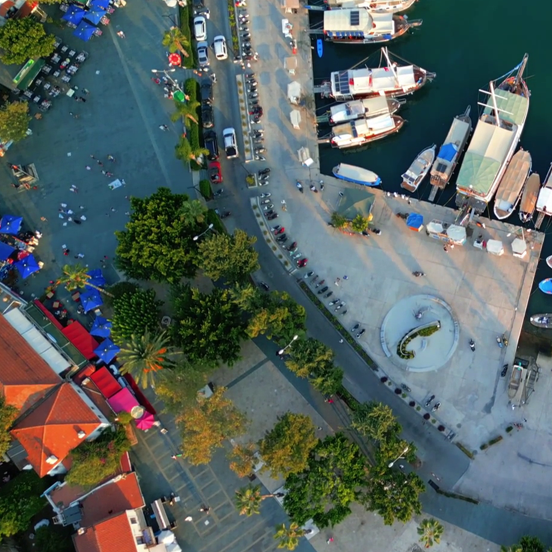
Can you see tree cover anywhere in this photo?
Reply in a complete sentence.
Yes, there is tree cover in the image.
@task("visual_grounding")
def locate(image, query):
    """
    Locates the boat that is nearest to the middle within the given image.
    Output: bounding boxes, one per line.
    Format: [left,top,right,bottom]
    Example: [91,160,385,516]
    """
[332,161,391,185]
